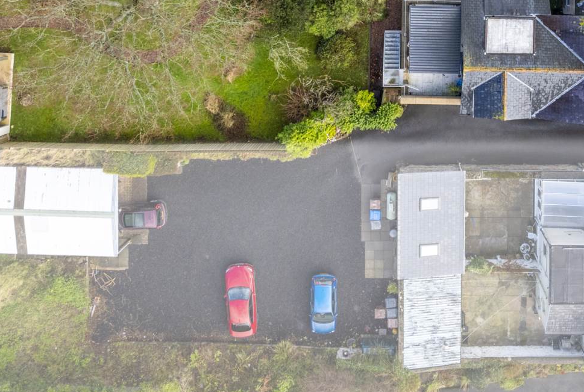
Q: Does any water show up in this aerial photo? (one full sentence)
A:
No, the picture contains no water.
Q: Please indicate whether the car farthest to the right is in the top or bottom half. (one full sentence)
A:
It is in the bottom half that the car farthest to the right appears.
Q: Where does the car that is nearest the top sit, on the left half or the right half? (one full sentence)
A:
The car that is nearest the top is on the left side of the image.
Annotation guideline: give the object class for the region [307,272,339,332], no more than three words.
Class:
car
